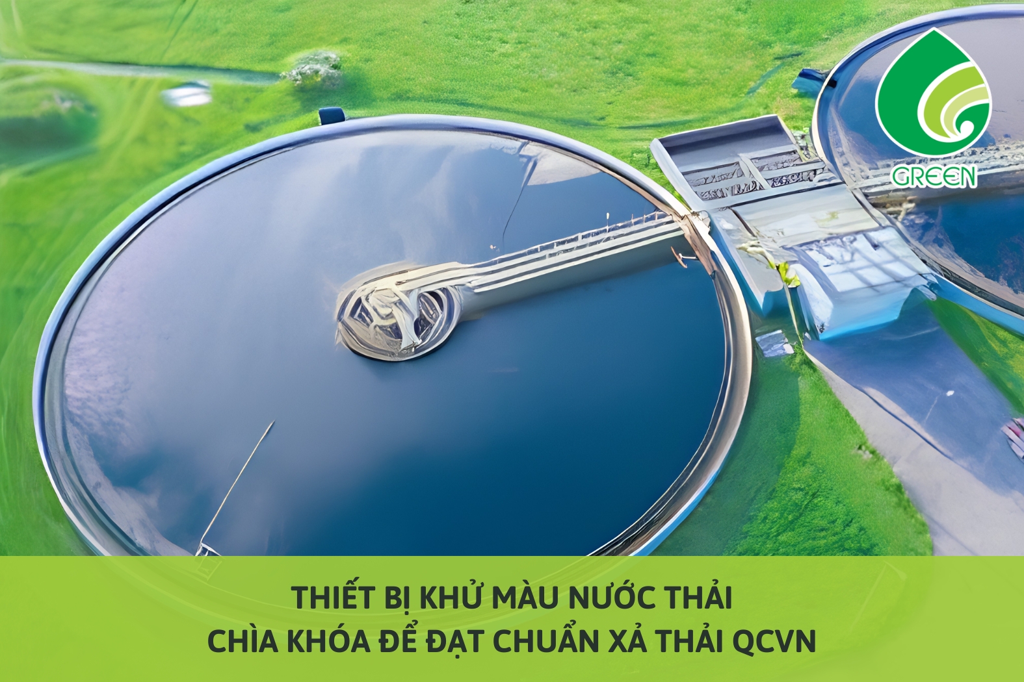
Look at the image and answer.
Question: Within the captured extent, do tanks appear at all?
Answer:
Yes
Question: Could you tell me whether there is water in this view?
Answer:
Yes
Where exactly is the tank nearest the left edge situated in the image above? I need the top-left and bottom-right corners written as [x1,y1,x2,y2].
[31,115,752,651]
